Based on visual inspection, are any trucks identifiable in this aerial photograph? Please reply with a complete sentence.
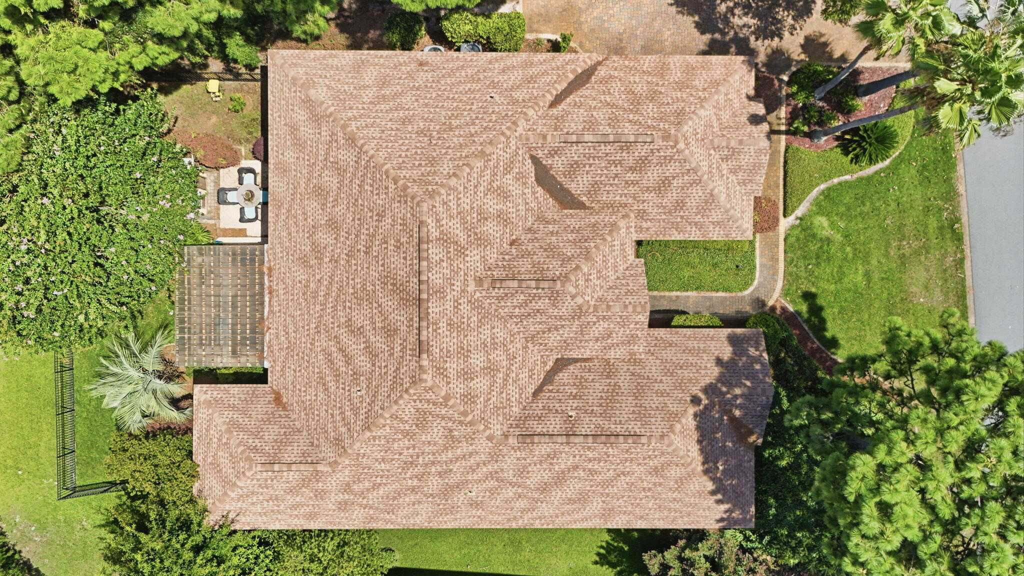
No, the scene contains no truck.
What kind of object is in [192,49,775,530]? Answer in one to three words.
house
